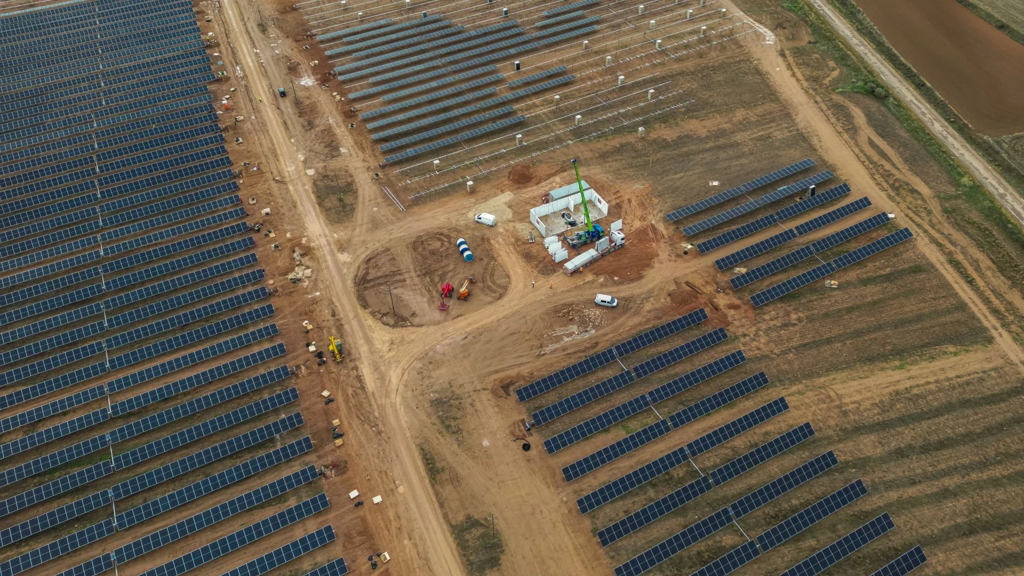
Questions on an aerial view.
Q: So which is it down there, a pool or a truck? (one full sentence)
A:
The one in the frame is a truck.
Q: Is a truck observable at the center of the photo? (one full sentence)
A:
Yes, there is a truck at the center of the photo.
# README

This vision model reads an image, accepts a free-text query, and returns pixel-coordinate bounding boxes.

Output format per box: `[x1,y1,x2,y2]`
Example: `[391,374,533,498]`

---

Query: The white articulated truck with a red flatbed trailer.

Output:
[563,230,628,273]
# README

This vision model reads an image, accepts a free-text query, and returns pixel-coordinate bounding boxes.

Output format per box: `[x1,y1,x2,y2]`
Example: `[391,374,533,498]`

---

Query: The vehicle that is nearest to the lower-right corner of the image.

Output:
[593,291,619,307]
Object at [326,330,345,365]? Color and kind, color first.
yellow work vehicle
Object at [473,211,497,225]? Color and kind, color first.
white vehicle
